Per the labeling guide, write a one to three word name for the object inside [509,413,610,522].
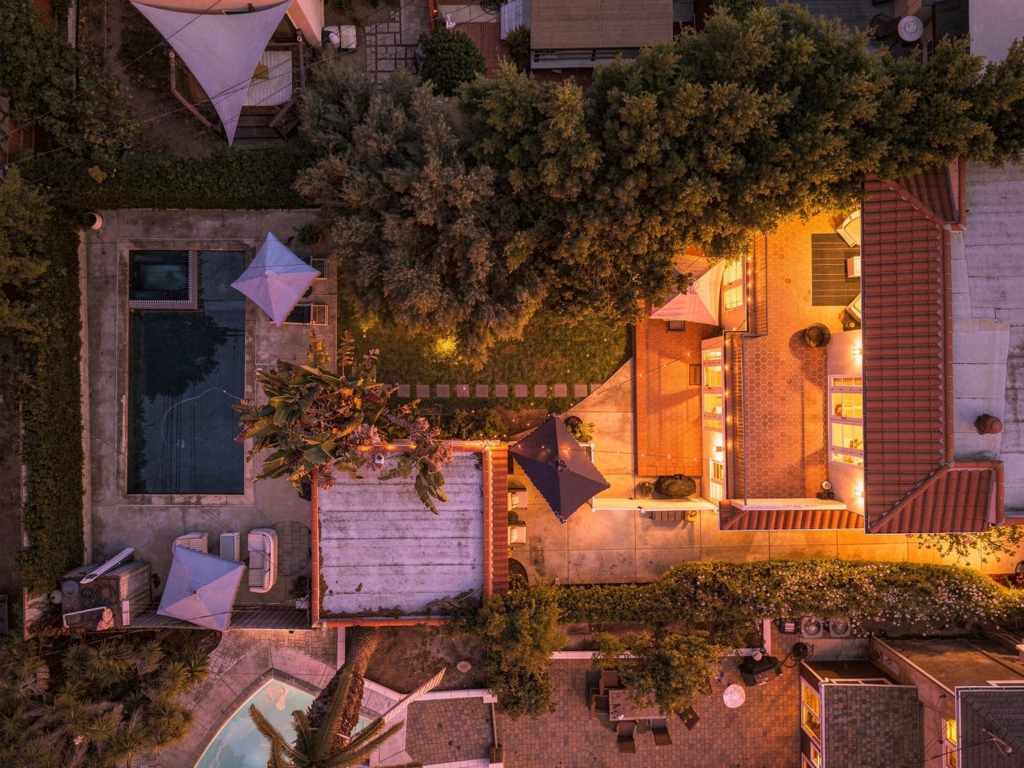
umbrella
